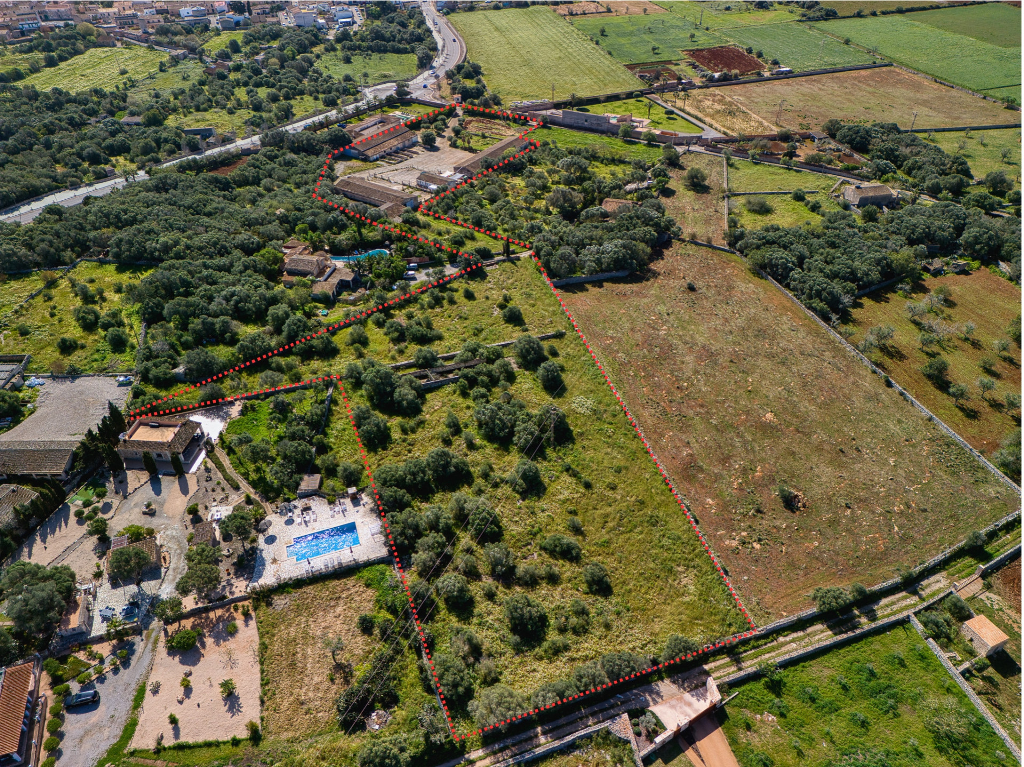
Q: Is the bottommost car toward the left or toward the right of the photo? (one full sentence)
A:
The bottommost car sits on the left side.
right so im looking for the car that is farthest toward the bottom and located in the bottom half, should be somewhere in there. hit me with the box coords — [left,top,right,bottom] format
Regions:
[60,686,100,709]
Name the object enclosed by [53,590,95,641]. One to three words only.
shed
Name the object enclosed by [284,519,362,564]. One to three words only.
swimming pool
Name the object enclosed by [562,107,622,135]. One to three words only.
building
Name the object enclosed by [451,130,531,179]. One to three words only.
barn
